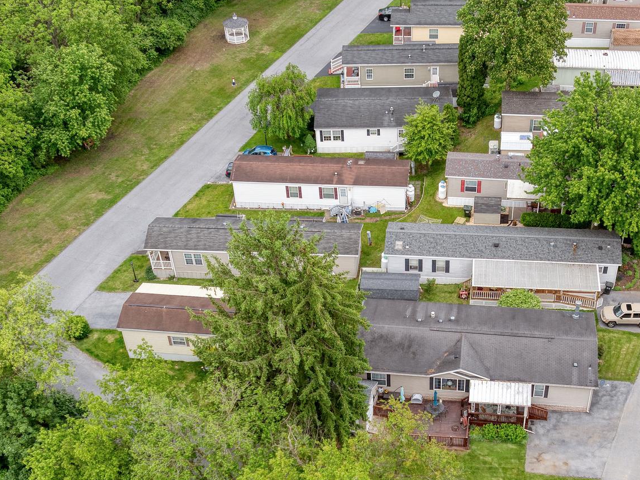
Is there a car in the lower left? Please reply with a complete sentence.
No, I can find no car in the lower left.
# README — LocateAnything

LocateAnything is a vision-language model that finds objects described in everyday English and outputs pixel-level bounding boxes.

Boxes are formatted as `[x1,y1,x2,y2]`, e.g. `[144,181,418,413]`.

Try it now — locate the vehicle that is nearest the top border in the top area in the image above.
[375,7,391,24]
